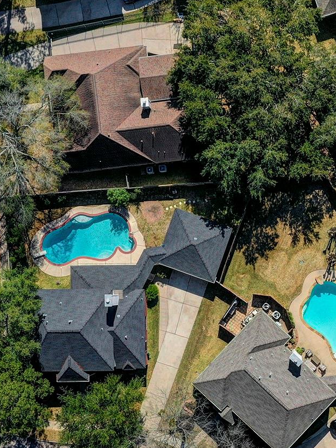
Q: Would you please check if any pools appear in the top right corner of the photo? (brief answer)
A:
No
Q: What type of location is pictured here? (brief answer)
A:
residential area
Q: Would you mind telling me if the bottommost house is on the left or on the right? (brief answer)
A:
right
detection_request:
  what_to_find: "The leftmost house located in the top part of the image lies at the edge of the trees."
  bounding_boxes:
[43,45,186,174]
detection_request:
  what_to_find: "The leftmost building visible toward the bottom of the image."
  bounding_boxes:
[37,208,233,382]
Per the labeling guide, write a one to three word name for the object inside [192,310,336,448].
house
